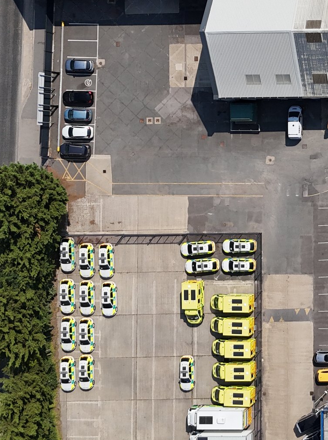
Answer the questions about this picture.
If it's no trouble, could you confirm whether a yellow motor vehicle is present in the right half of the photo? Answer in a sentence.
Yes, the scene does show a yellow motor vehicle in the right half of the photo.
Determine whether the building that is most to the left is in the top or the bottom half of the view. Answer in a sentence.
You can find the building that is most to the left in the top half.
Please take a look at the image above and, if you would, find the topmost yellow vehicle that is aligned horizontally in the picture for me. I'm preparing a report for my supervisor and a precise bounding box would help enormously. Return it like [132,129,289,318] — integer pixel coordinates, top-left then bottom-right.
[214,295,256,316]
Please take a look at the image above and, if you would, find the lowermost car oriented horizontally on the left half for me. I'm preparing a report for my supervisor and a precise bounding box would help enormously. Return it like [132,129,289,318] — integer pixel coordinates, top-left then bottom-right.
[59,143,91,159]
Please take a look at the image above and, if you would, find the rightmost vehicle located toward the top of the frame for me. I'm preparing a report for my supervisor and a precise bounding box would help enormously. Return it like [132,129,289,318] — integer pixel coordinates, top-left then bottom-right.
[287,107,304,139]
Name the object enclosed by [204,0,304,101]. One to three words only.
building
